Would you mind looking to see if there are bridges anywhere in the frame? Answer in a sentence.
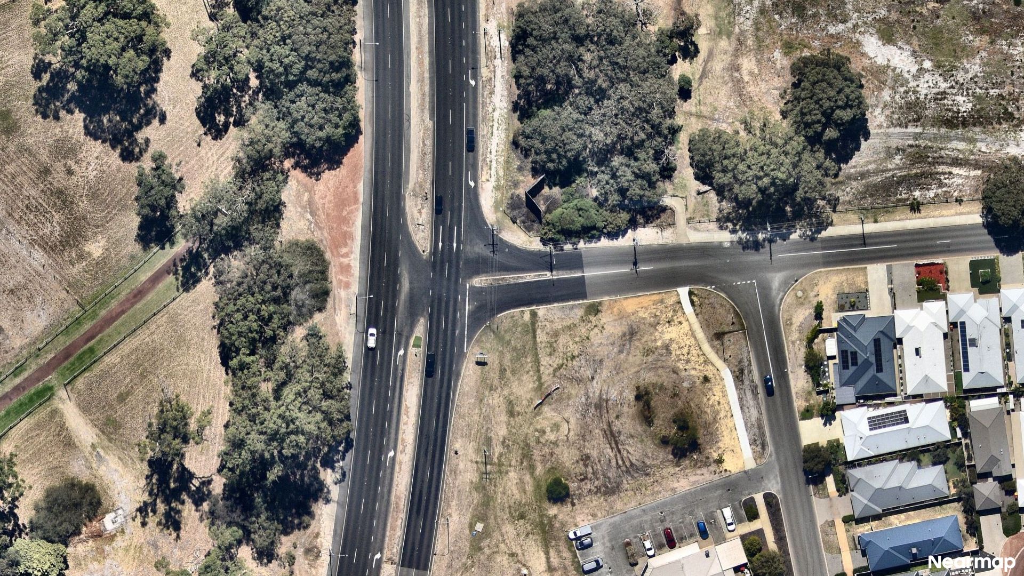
No, the scene contains no bridge.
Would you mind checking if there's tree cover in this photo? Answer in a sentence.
Yes, there is tree cover in the image.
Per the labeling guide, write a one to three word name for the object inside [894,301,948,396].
house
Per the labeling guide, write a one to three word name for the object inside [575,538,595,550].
vehicle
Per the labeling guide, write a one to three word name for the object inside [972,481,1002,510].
building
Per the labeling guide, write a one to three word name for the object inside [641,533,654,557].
vehicle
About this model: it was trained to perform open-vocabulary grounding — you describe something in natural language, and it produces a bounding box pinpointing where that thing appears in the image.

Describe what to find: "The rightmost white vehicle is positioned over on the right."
[721,506,735,531]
